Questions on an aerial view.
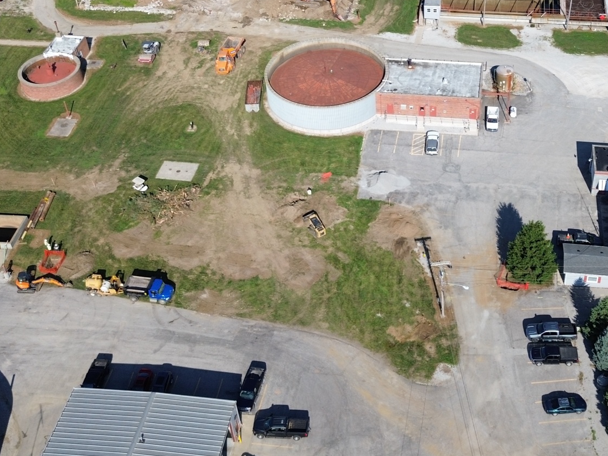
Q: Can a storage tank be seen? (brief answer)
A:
Yes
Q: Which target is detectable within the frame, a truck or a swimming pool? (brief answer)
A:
truck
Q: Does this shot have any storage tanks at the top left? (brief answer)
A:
Yes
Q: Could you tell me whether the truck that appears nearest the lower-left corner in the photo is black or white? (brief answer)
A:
black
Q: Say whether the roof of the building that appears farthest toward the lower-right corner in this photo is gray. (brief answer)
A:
Yes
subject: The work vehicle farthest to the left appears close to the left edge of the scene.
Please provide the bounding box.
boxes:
[13,274,77,297]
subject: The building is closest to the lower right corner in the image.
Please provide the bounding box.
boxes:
[564,243,608,288]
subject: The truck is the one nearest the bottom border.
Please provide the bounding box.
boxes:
[252,417,312,444]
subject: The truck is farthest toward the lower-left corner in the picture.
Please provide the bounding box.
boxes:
[79,354,113,389]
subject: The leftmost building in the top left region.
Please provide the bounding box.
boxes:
[43,16,92,66]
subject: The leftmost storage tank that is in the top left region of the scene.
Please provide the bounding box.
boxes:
[18,54,86,103]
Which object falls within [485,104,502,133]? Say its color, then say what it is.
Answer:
white vehicle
